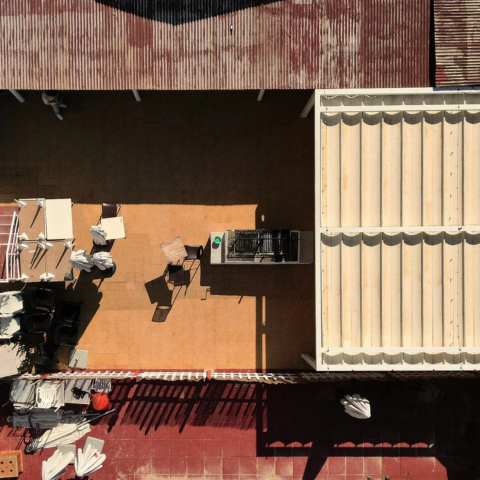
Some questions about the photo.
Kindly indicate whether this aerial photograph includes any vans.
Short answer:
No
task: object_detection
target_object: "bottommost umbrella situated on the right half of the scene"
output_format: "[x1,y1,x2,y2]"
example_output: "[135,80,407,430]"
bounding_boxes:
[341,392,370,417]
